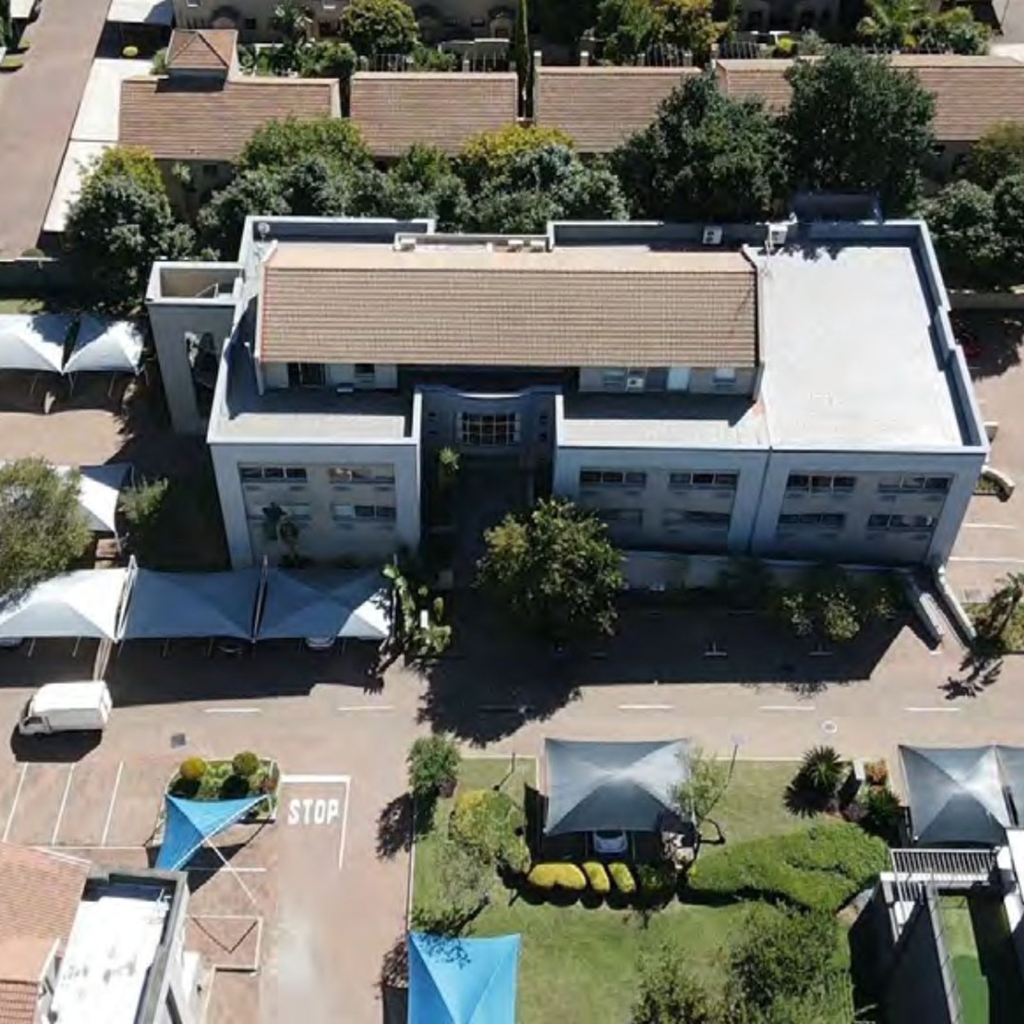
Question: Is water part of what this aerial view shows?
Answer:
No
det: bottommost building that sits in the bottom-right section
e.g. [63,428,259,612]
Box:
[861,831,1024,1024]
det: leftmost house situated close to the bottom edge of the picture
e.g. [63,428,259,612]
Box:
[0,842,93,1024]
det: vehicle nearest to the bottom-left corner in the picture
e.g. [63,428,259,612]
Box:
[17,676,112,731]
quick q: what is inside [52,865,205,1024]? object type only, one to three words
building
